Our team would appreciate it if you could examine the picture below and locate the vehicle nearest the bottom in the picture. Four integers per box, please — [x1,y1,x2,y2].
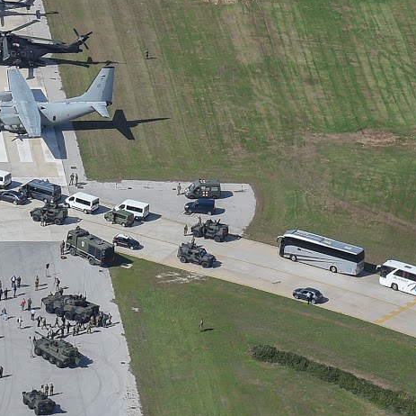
[24,386,58,413]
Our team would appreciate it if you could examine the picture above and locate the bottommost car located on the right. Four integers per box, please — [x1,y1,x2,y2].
[293,287,325,303]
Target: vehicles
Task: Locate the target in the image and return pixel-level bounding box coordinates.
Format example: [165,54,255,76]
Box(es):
[179,243,217,267]
[0,190,27,204]
[104,209,136,226]
[192,214,228,241]
[115,197,150,219]
[64,191,100,213]
[31,200,68,224]
[273,227,360,273]
[111,233,143,249]
[0,169,12,189]
[66,228,113,264]
[184,198,219,215]
[45,289,102,321]
[183,176,222,198]
[24,386,58,413]
[16,175,62,202]
[293,287,325,303]
[375,256,416,294]
[34,327,85,366]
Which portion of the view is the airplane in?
top left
